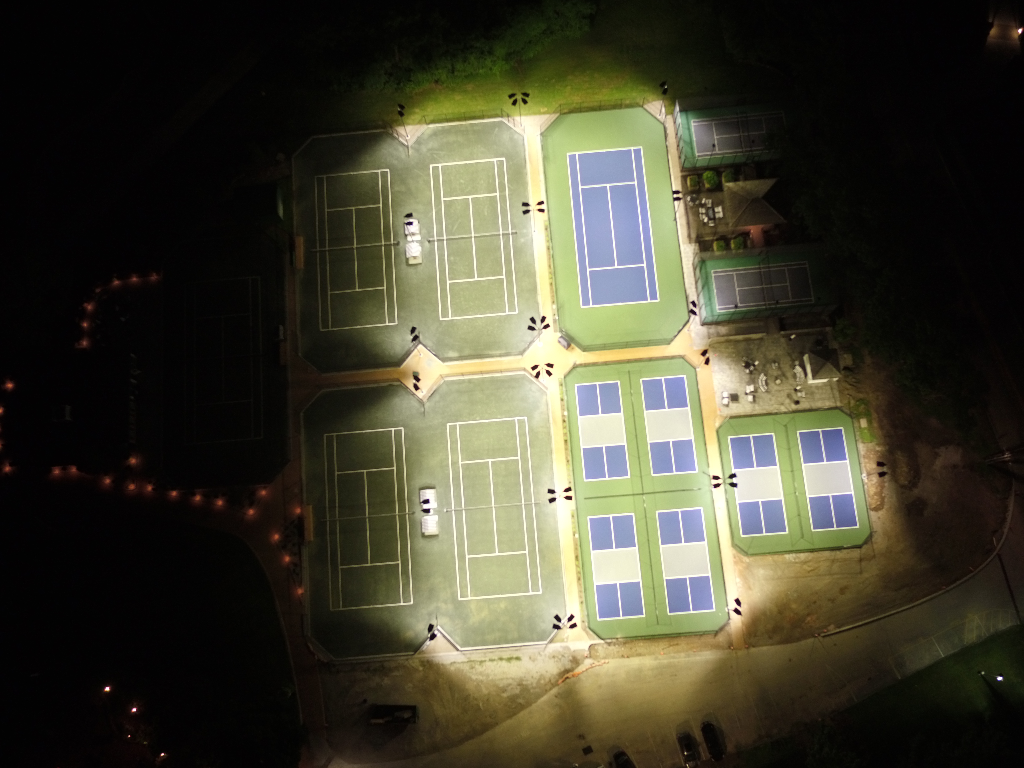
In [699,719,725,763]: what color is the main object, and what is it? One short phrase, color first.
black car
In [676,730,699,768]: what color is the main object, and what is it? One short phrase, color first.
black car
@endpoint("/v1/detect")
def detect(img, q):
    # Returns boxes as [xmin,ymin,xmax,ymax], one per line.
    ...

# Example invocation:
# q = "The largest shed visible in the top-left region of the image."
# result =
[229,175,281,223]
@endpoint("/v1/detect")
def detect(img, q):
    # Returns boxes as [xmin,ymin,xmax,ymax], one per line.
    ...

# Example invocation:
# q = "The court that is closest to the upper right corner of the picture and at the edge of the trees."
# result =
[673,88,814,172]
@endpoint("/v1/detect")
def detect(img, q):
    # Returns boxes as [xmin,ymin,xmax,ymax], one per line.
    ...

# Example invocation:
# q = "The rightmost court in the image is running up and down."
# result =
[783,409,870,551]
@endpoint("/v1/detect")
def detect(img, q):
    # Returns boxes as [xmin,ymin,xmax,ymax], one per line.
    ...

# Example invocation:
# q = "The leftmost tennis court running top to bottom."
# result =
[164,236,287,488]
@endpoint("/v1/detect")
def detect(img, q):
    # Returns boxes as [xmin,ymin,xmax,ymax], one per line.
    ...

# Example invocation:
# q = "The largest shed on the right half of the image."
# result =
[724,178,786,230]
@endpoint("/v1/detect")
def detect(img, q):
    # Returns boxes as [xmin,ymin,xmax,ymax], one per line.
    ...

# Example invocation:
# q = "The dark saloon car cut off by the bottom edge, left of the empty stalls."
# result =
[612,748,633,768]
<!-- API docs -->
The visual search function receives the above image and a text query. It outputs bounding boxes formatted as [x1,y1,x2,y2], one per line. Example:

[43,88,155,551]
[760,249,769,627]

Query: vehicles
[699,719,725,763]
[676,730,699,768]
[612,748,633,768]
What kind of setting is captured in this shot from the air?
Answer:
sports ground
